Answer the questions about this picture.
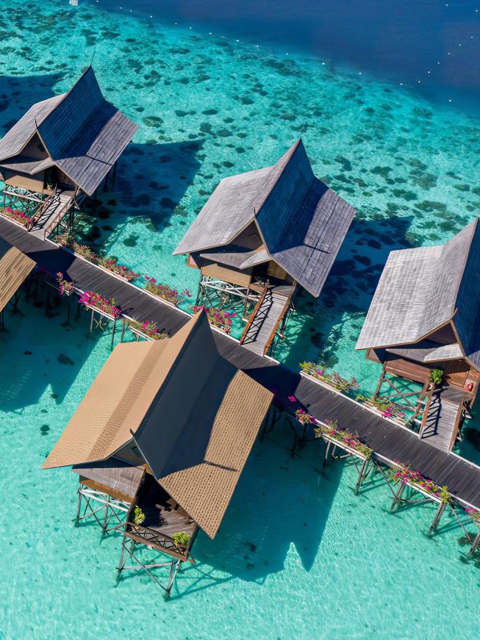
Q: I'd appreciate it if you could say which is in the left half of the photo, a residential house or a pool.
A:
residential house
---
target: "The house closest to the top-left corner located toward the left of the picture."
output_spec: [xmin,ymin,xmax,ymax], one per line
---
[0,48,139,237]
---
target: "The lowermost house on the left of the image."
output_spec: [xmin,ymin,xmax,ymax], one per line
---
[41,287,270,599]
